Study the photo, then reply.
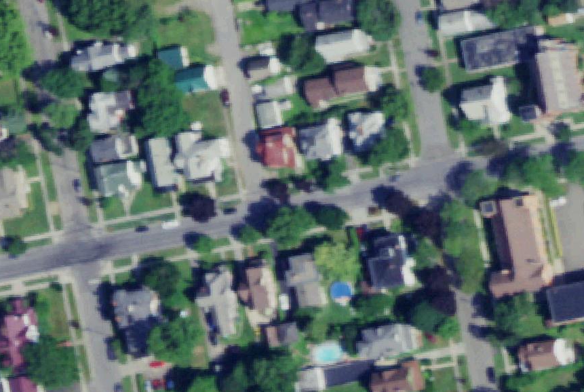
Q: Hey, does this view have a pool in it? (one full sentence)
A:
Yes, you can see a pool in this photo.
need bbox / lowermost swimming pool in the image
[313,339,343,367]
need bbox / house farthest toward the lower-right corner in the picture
[515,337,574,372]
